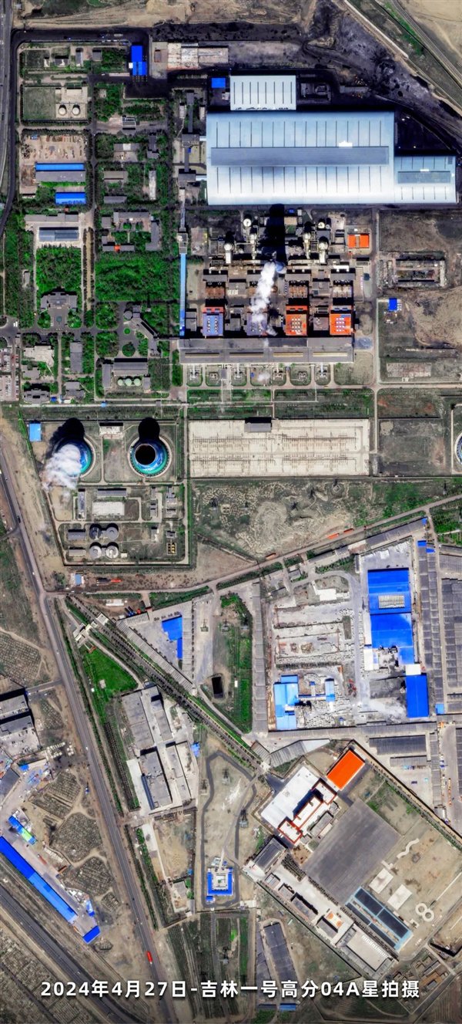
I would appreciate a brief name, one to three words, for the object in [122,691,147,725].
building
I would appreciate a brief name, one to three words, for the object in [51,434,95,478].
cooling tower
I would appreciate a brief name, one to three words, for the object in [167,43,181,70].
shed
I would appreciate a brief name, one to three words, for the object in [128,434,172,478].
cooling tower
